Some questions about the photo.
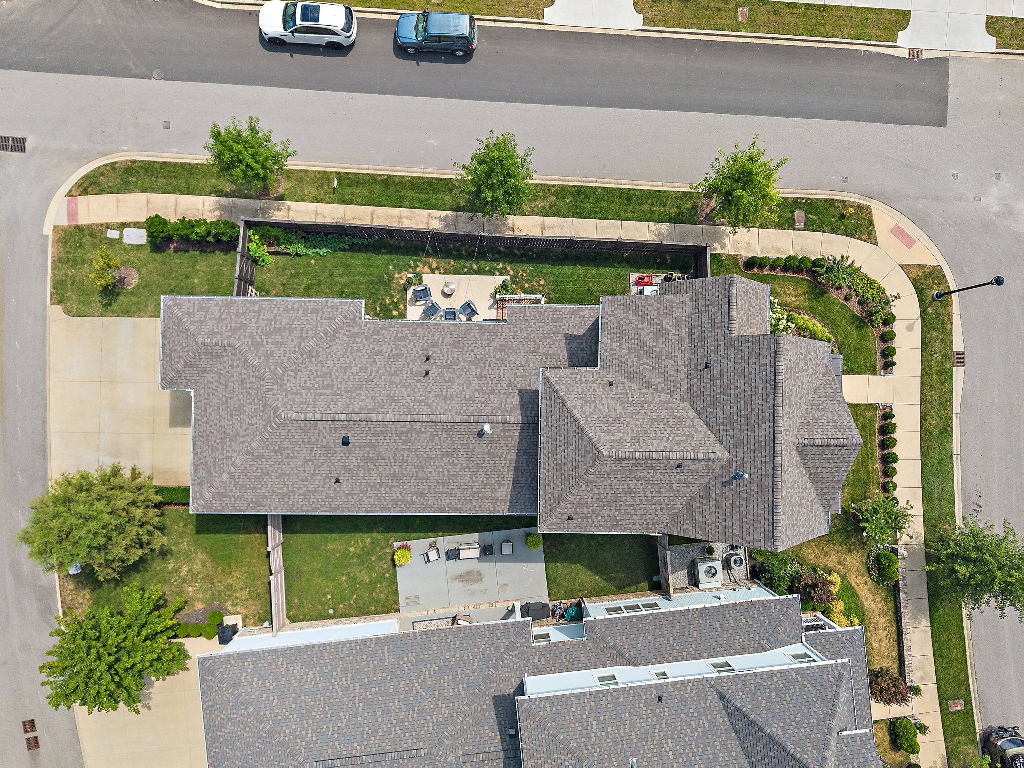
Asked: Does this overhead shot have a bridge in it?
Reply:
No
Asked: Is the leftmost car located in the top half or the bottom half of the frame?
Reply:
top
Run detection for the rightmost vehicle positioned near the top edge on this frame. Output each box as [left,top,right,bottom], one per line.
[396,9,477,59]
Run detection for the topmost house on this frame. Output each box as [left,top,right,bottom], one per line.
[160,276,863,553]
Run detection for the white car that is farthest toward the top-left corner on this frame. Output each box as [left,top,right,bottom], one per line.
[261,0,357,51]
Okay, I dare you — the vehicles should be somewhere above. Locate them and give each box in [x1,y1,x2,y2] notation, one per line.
[261,0,357,51]
[396,9,477,59]
[991,730,1024,768]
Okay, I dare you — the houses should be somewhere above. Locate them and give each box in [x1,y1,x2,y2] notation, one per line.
[160,276,863,553]
[196,579,884,768]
